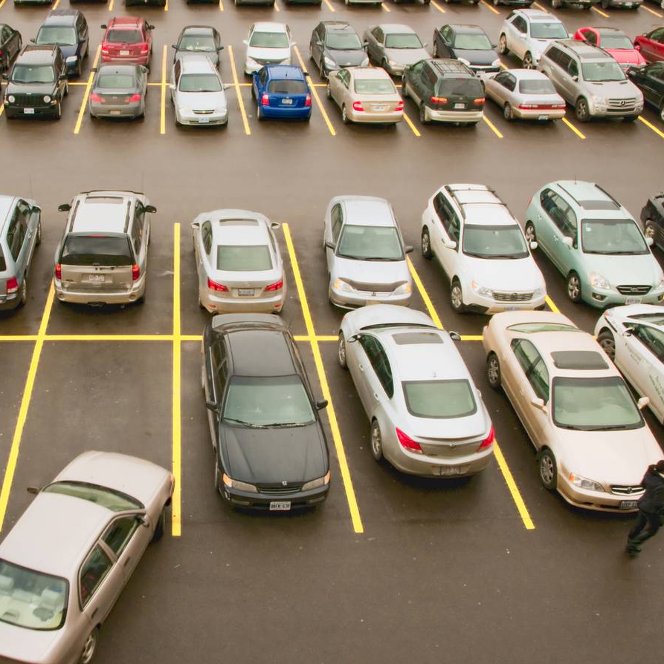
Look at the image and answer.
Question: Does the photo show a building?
No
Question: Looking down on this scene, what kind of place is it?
parking lot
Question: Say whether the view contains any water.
No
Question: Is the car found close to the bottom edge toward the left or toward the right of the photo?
left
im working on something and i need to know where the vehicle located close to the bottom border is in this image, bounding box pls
[0,454,175,664]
